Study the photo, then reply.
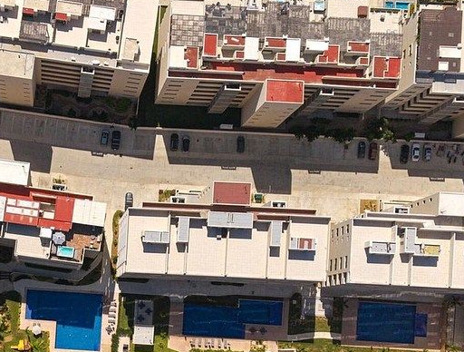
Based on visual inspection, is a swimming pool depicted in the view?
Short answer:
Yes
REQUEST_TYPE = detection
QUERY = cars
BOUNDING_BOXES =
[125,191,134,211]
[183,134,191,153]
[399,145,409,164]
[236,135,244,153]
[423,145,432,161]
[367,141,377,161]
[170,132,178,151]
[411,144,420,162]
[101,128,109,147]
[357,140,366,160]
